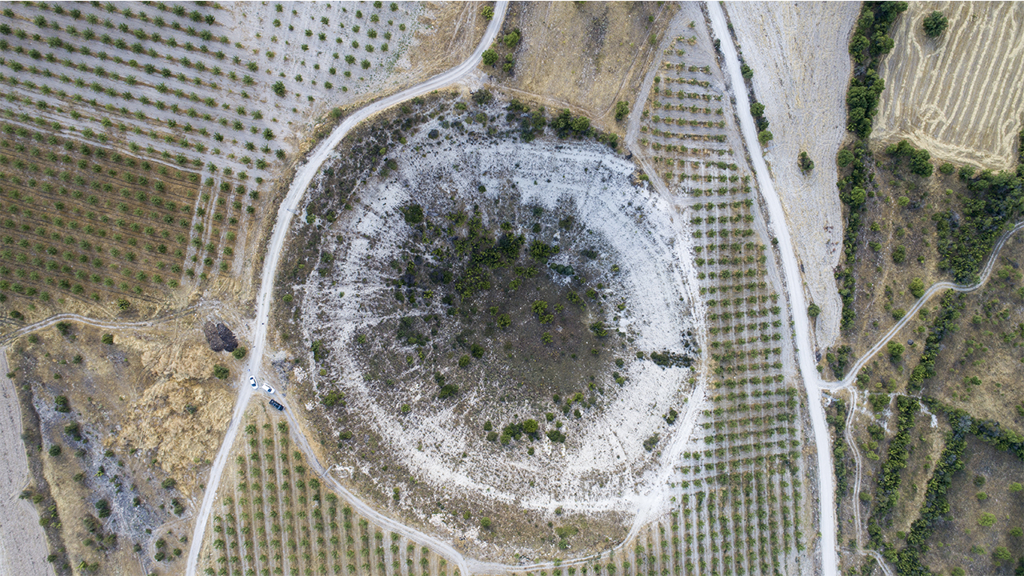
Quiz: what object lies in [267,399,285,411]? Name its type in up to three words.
vehicle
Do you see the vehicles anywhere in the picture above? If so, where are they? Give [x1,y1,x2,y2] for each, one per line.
[261,383,276,394]
[249,375,258,390]
[267,399,285,411]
